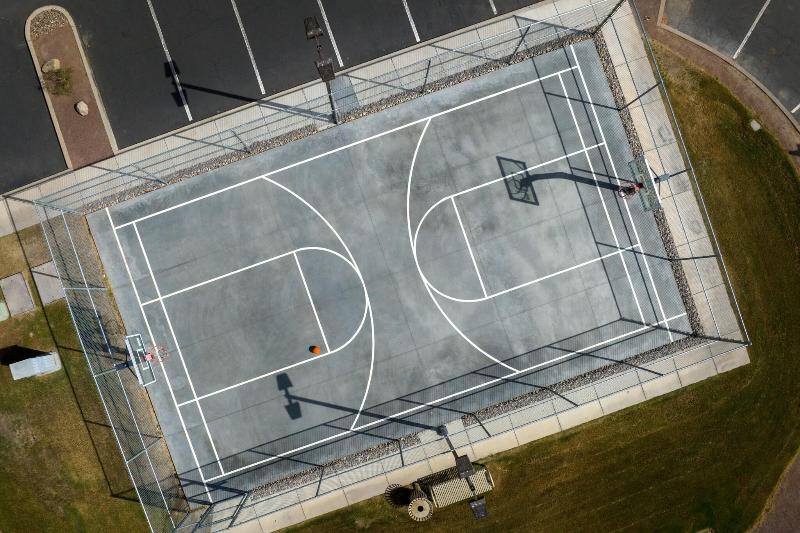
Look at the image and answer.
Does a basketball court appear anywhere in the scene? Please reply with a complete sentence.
Yes, this view includes a basketball court.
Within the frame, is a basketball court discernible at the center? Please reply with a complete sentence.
Yes, at the center there is a basketball court.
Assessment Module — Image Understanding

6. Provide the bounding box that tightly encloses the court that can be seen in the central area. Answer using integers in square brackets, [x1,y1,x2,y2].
[84,38,694,511]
